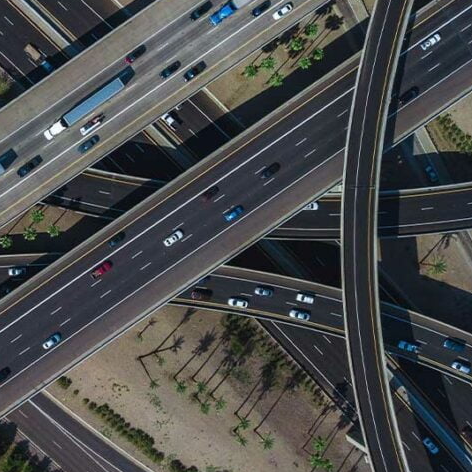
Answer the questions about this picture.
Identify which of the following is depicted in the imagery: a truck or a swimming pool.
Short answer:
truck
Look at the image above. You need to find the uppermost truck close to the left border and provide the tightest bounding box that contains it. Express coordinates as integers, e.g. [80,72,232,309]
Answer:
[23,44,50,70]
